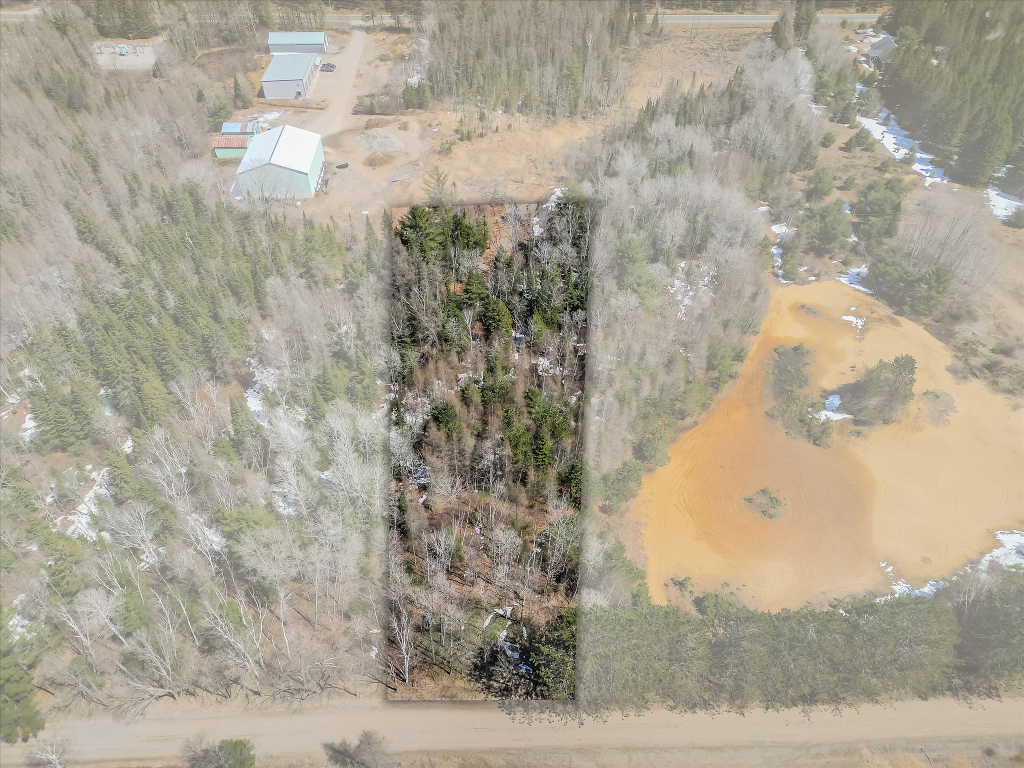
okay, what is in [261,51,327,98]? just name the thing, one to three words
building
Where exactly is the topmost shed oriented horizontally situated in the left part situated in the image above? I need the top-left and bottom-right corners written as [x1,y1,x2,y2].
[267,31,331,53]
